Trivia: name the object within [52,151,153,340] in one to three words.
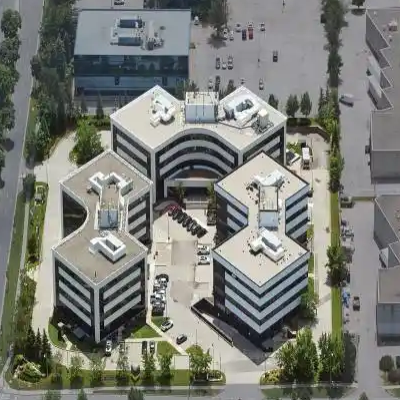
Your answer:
building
